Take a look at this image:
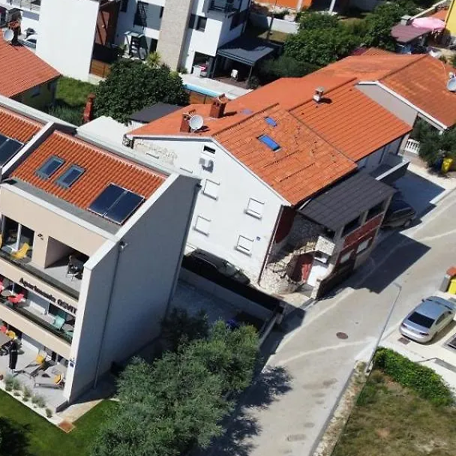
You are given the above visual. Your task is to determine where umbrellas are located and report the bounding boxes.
[8,333,20,374]
[404,15,452,42]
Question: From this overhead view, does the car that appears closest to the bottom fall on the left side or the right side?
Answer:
right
